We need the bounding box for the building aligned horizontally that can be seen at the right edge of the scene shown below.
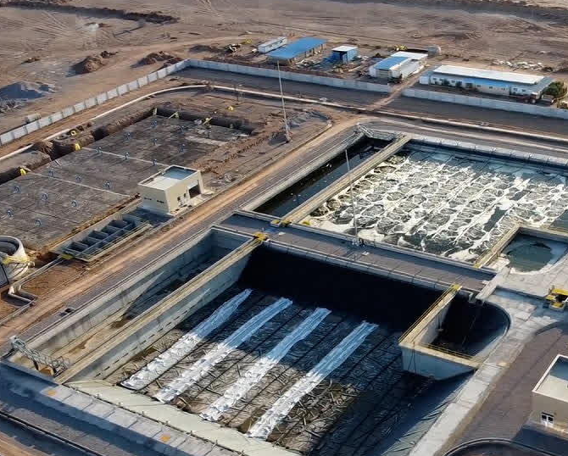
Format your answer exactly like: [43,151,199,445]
[414,62,553,97]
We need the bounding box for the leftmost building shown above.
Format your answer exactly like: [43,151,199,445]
[135,161,217,214]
